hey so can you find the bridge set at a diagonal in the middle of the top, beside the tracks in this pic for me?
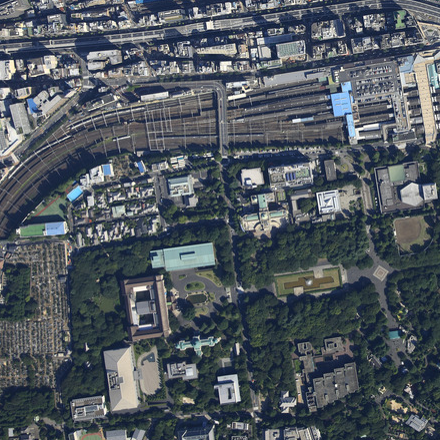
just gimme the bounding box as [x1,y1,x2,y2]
[130,78,229,154]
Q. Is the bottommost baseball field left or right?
right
